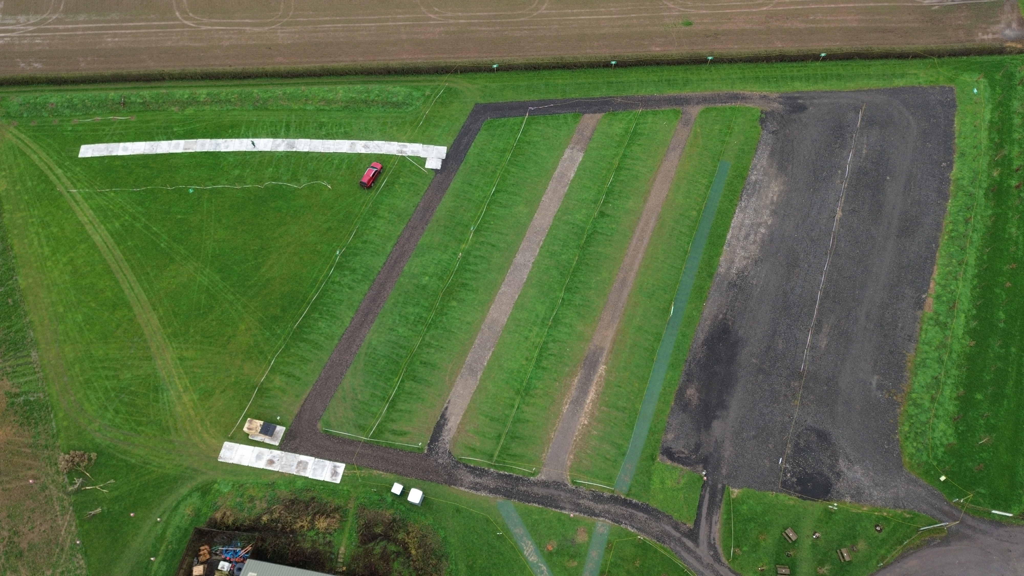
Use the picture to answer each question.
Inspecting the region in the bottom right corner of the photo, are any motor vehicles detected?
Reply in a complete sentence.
No, no motor vehicle appears in the bottom right corner of the photo.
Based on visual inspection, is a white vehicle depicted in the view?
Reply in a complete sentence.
No, there appears to be no white vehicle in this shot.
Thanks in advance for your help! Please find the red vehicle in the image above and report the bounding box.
[358,161,383,190]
